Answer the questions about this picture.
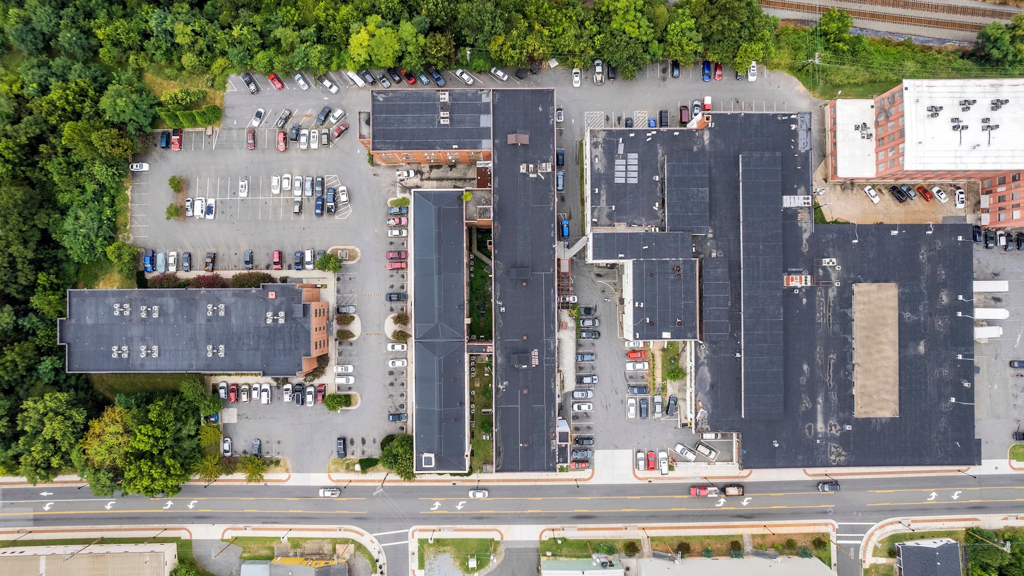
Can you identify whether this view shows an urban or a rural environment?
urban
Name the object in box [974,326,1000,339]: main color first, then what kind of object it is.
white vehicle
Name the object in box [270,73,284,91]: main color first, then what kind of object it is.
red car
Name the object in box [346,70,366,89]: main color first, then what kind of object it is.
white vehicle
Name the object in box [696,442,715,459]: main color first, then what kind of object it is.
white car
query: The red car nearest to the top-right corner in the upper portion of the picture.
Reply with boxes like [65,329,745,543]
[917,186,933,202]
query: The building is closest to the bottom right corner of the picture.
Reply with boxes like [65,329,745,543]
[890,536,959,576]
